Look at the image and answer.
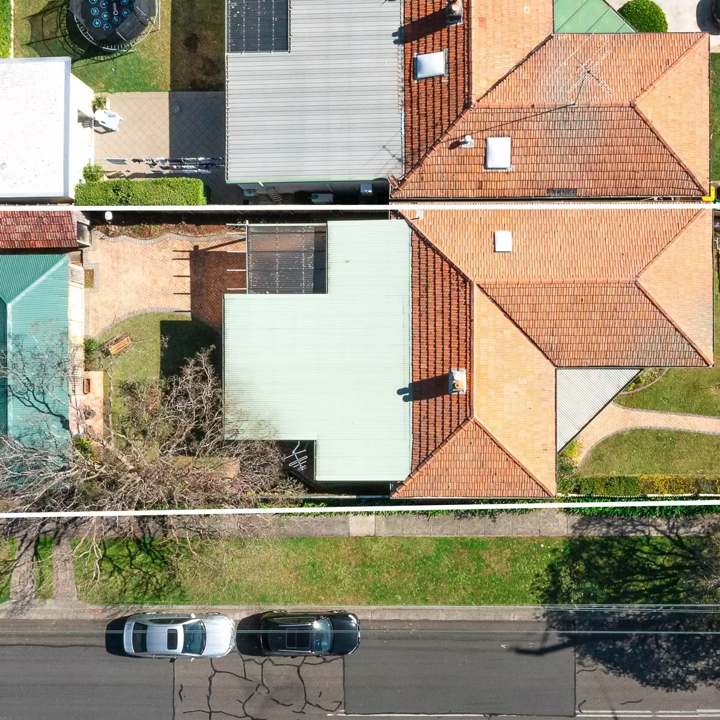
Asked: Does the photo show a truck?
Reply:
No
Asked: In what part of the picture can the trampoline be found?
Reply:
top left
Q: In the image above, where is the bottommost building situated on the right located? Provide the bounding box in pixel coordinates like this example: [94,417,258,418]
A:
[222,199,717,500]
